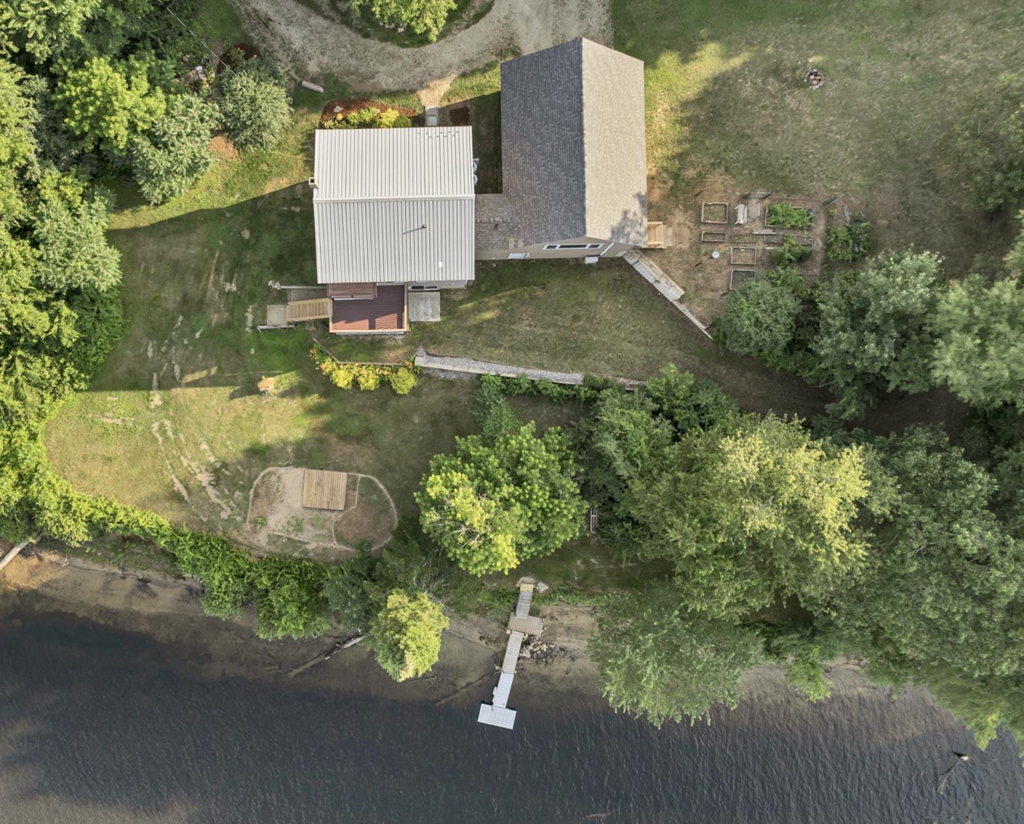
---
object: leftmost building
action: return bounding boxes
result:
[308,127,476,289]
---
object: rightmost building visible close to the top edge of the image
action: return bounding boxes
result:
[496,38,649,259]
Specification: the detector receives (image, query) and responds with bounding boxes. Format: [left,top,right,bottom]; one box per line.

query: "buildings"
[308,127,476,289]
[496,38,649,259]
